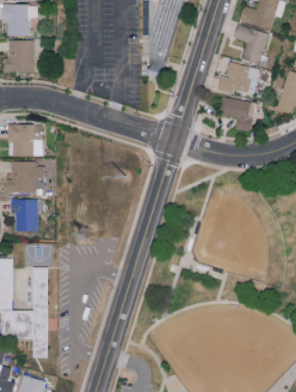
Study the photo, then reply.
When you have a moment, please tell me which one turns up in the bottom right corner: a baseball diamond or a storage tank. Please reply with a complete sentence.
The feature located in the bottom right corner is a baseball diamond.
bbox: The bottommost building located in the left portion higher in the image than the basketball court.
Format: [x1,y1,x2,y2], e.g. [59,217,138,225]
[10,200,39,232]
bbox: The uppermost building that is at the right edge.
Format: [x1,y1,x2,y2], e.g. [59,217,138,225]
[240,0,286,32]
